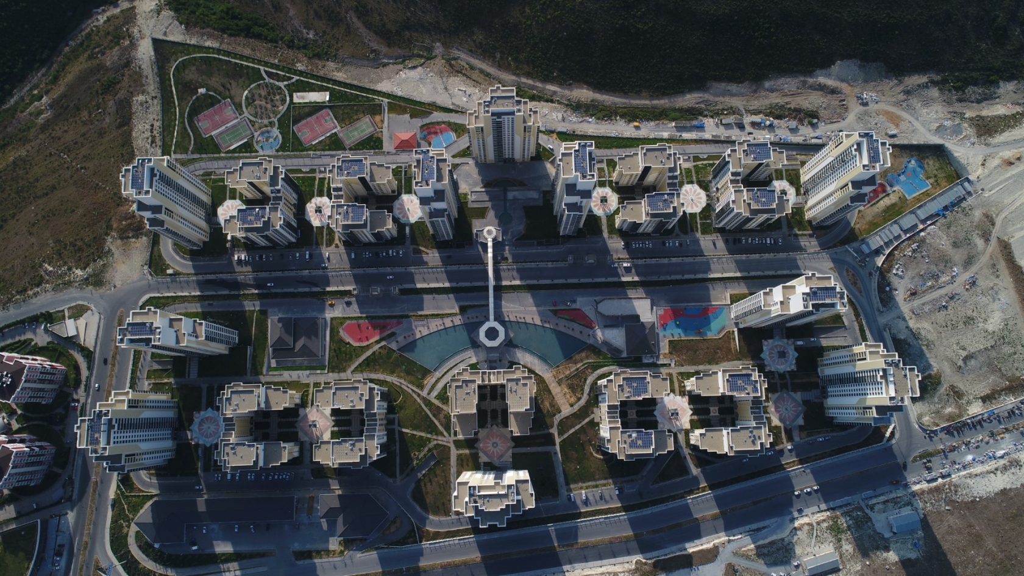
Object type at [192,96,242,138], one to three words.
basketball court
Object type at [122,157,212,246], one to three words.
building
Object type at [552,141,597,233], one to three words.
building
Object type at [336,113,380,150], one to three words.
tennis court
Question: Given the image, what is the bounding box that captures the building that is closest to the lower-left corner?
[0,428,53,482]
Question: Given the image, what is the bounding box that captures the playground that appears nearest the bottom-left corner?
[339,321,403,342]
